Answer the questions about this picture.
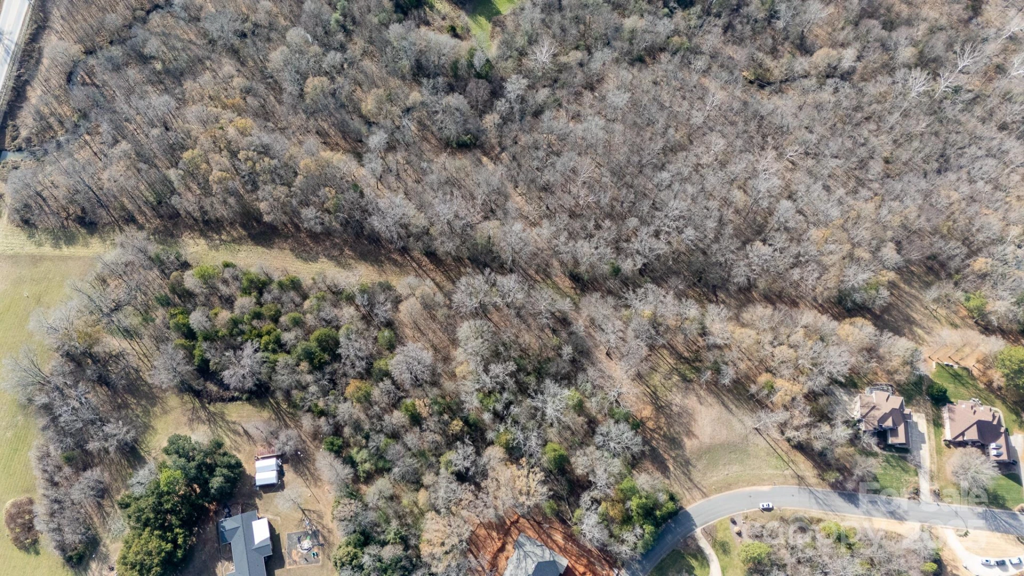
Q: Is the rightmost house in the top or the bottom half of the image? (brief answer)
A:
bottom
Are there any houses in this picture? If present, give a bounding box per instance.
[854,391,912,450]
[503,533,568,576]
[942,400,1011,464]
[219,510,274,576]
